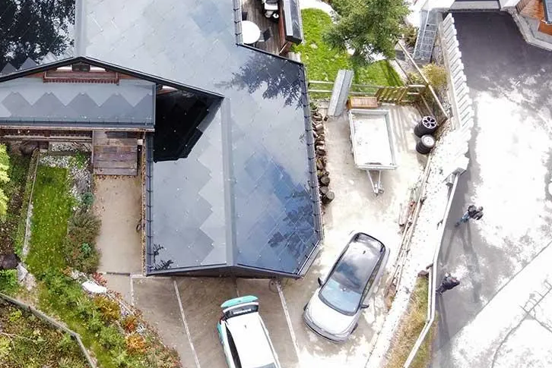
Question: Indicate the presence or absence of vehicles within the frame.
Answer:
Yes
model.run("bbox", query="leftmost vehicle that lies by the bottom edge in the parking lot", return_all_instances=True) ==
[208,282,283,368]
